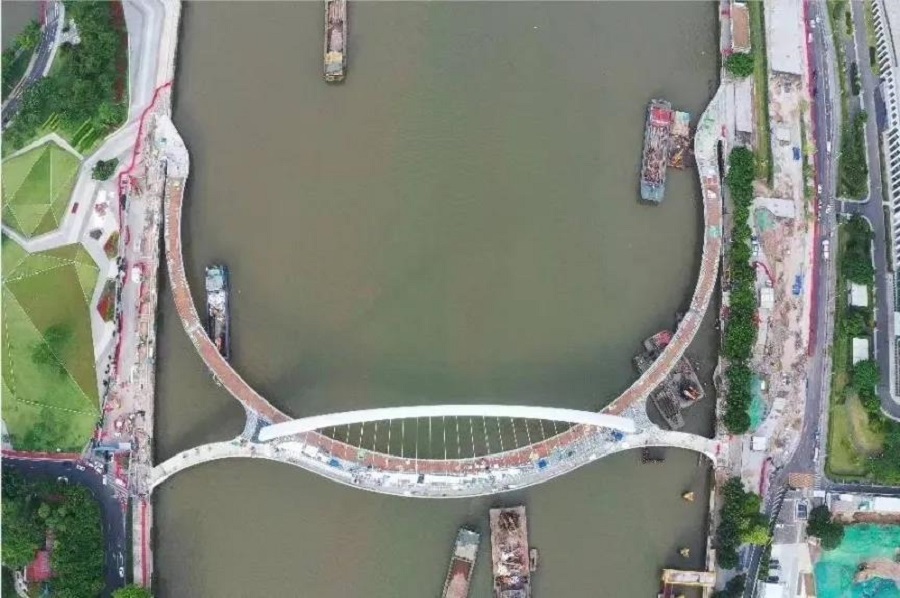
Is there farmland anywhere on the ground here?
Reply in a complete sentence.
No, the picture contains no farmland.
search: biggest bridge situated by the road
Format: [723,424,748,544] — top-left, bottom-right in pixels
[150,84,735,499]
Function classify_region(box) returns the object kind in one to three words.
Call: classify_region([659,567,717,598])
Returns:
pier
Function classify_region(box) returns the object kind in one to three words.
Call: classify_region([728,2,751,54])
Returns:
building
